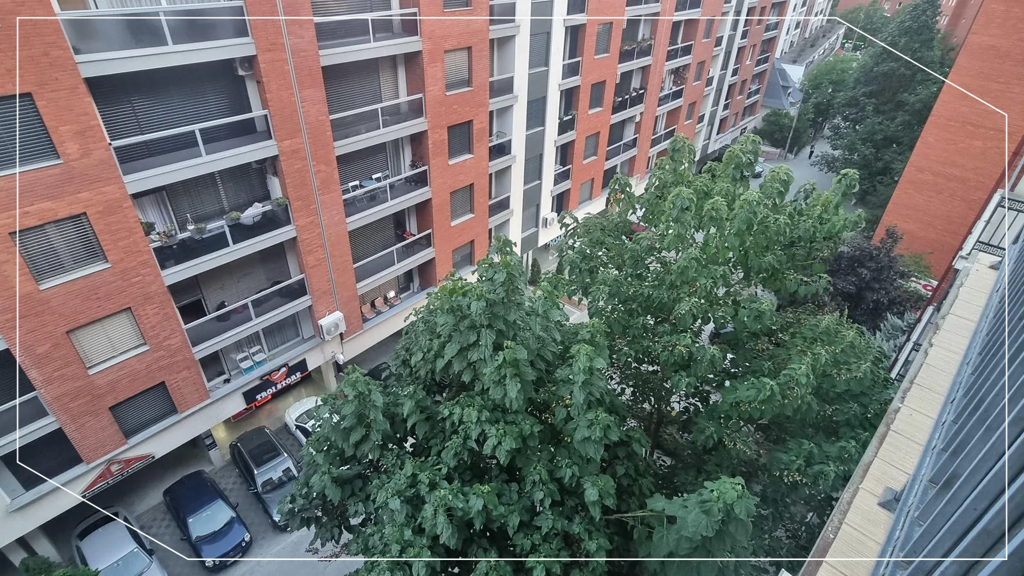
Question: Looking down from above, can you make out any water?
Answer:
No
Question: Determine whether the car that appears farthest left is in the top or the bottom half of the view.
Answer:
bottom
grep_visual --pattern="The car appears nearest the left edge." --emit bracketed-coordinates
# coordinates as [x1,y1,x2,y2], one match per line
[82,507,163,576]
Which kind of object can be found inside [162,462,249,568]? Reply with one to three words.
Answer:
car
